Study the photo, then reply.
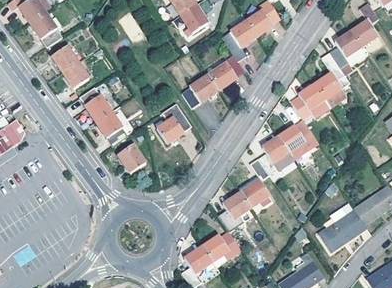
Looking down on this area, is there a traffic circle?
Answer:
Yes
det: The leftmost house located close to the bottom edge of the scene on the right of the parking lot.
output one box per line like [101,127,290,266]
[182,244,214,288]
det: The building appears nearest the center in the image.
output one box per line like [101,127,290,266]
[156,104,194,147]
